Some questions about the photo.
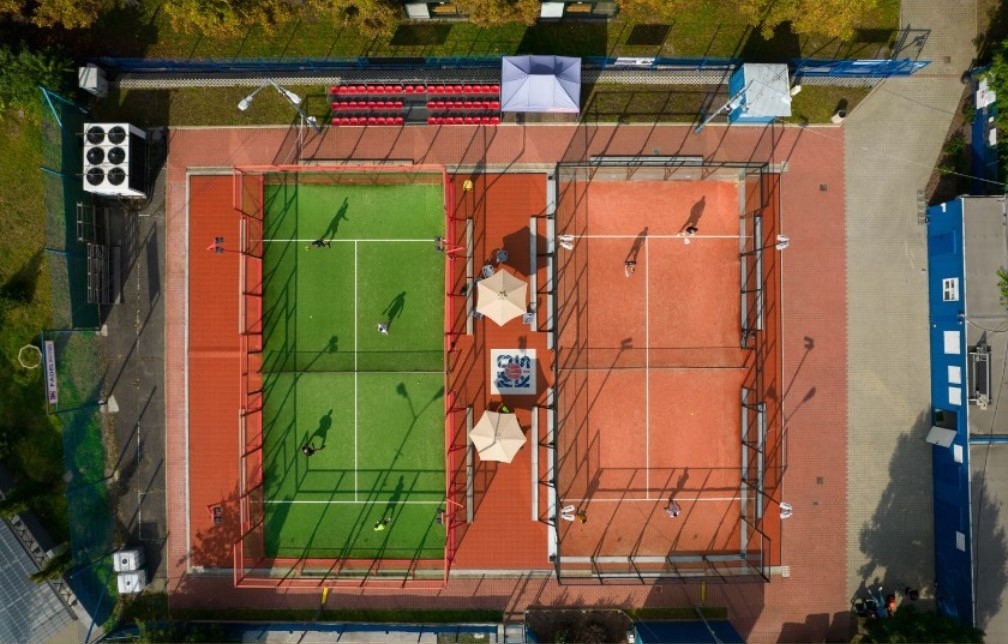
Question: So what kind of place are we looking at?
sports ground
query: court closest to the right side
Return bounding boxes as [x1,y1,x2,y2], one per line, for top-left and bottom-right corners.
[530,155,774,590]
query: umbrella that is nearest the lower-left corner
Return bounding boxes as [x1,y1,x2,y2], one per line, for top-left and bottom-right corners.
[470,410,528,462]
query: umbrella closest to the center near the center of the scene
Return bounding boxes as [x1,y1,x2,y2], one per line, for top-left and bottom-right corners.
[476,267,528,325]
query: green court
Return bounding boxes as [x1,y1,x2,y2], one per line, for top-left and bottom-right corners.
[228,157,473,592]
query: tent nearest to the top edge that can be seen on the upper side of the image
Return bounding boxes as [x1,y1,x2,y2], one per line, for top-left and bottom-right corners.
[501,55,581,125]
